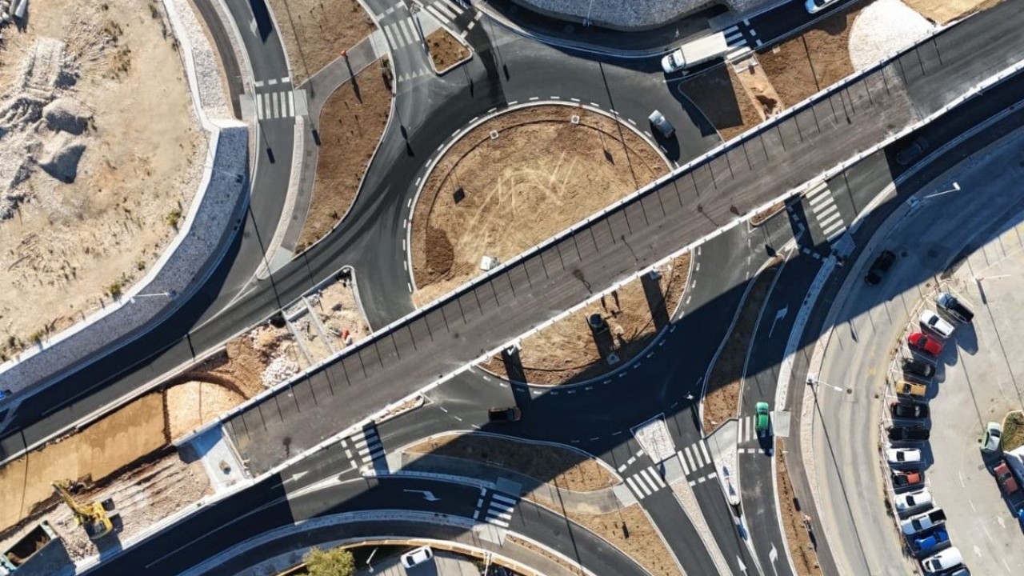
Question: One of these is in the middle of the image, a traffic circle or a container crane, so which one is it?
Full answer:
You can see a traffic circle in the middle of the image.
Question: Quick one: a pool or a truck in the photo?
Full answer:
The one in the frame is a truck.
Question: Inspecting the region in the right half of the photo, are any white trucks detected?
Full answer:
Yes, looking in the right half of the photo, one can make out a white truck.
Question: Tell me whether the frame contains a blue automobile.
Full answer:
Yes, the frame does contain a blue automobile.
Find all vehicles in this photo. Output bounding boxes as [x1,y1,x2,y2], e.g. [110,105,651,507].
[886,447,921,464]
[899,507,948,534]
[888,425,929,442]
[400,545,433,568]
[941,563,982,576]
[920,547,966,573]
[980,420,1003,452]
[804,0,842,15]
[889,401,929,419]
[659,25,732,71]
[900,356,937,378]
[912,529,950,551]
[894,380,927,396]
[917,309,955,338]
[890,469,923,488]
[51,479,123,545]
[0,514,70,576]
[906,332,943,357]
[648,109,675,140]
[488,405,521,422]
[933,292,976,325]
[892,490,932,511]
[491,556,510,576]
[861,249,897,285]
[753,400,770,431]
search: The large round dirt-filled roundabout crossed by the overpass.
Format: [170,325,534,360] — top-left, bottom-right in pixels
[380,72,722,414]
